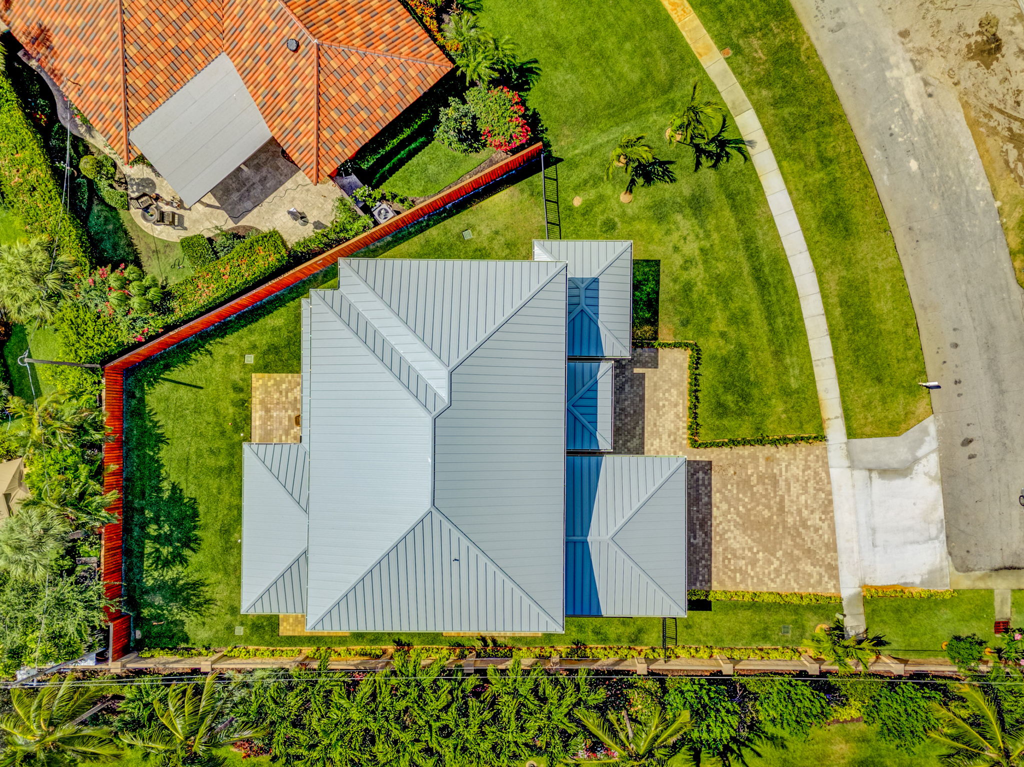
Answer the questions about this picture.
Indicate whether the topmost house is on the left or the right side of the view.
left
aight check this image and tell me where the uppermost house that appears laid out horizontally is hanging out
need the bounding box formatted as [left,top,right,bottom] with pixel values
[0,0,453,186]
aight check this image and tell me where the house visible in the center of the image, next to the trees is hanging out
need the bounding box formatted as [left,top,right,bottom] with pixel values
[240,240,686,635]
